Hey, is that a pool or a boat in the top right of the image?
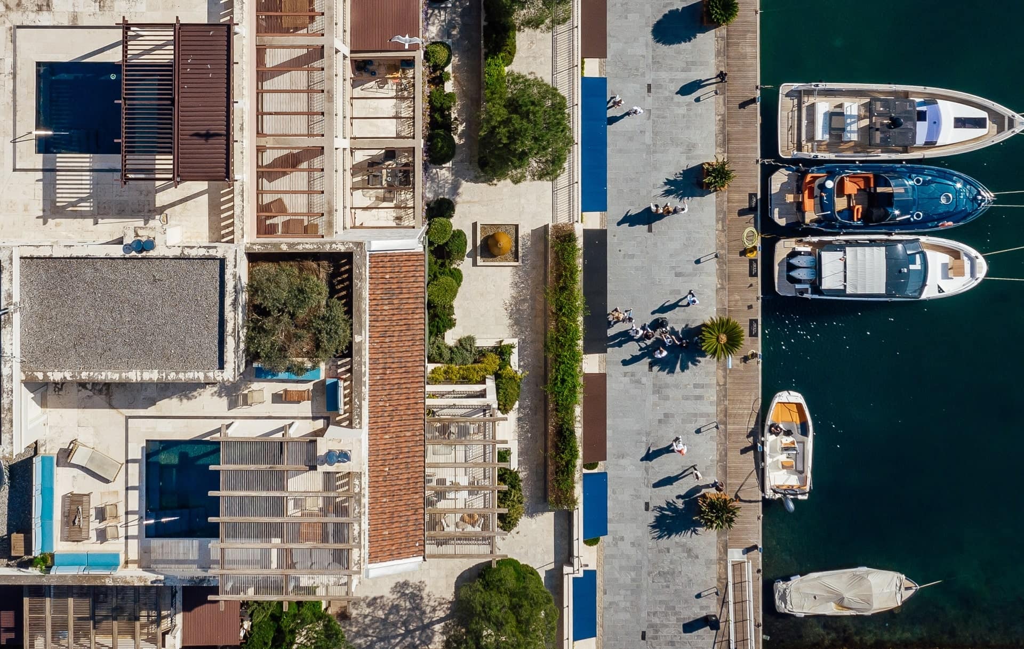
boat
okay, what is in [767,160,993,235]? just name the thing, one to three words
boat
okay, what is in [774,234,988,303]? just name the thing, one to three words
boat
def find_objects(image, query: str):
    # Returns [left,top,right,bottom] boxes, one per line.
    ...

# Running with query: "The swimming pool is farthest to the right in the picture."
[146,440,283,537]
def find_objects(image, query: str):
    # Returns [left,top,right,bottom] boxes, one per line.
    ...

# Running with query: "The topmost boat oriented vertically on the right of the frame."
[761,391,813,512]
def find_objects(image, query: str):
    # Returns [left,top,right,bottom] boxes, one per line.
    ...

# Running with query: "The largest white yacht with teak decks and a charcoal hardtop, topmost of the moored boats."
[779,83,1024,159]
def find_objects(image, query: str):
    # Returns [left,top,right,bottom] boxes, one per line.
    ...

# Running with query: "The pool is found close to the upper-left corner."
[36,62,157,154]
